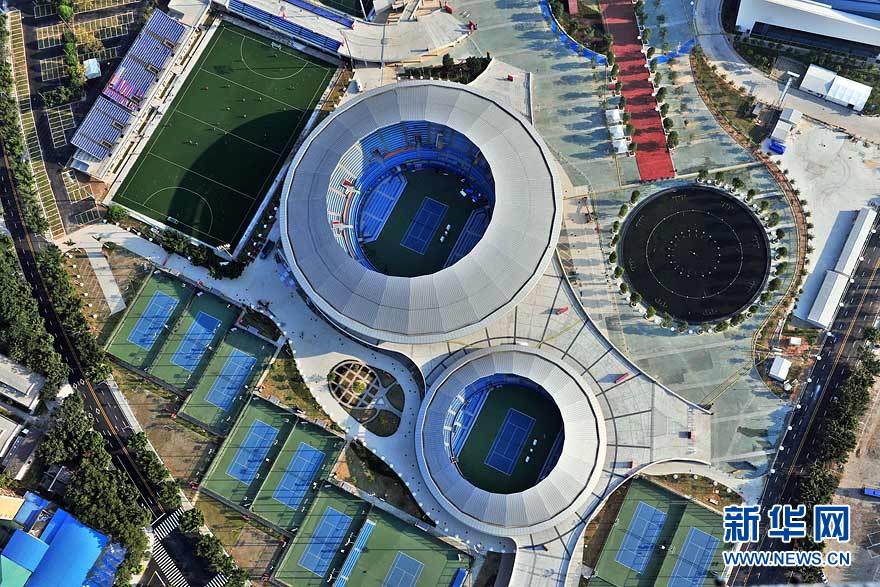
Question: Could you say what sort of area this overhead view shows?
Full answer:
The picture captures a sports ground.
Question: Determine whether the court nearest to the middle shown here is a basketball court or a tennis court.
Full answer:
Specifically, the court nearest to the middle is a tennis court.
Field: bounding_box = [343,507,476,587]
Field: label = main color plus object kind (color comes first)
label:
green tennis court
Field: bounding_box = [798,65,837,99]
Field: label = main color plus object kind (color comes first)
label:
white tent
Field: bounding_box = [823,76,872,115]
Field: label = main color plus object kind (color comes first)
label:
white tent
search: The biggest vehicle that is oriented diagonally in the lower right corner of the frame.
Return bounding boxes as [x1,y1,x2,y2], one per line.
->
[817,569,833,584]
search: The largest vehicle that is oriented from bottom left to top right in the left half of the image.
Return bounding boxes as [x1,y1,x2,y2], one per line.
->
[260,241,272,256]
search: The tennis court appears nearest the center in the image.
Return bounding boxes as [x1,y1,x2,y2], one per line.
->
[360,165,490,276]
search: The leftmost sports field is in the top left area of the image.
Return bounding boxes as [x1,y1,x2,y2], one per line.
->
[105,17,341,257]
